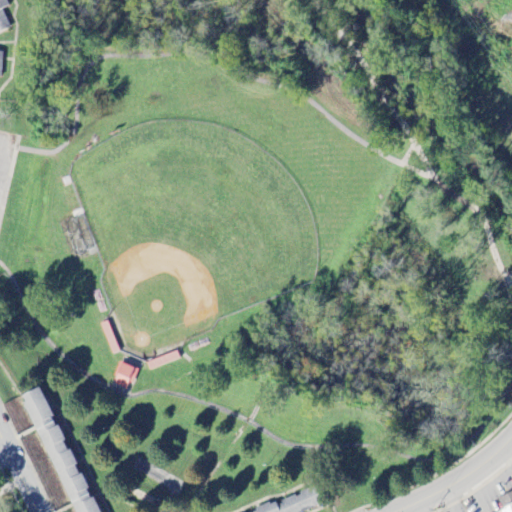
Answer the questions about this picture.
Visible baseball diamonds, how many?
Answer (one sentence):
My tally gives 1 baseball diamond in this photo.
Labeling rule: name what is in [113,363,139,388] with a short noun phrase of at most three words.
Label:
building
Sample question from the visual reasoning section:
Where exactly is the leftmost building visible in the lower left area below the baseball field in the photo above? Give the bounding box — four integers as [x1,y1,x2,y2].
[20,388,100,512]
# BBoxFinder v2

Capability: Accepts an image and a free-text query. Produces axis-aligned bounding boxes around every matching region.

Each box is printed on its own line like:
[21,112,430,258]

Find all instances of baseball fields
[70,118,318,360]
